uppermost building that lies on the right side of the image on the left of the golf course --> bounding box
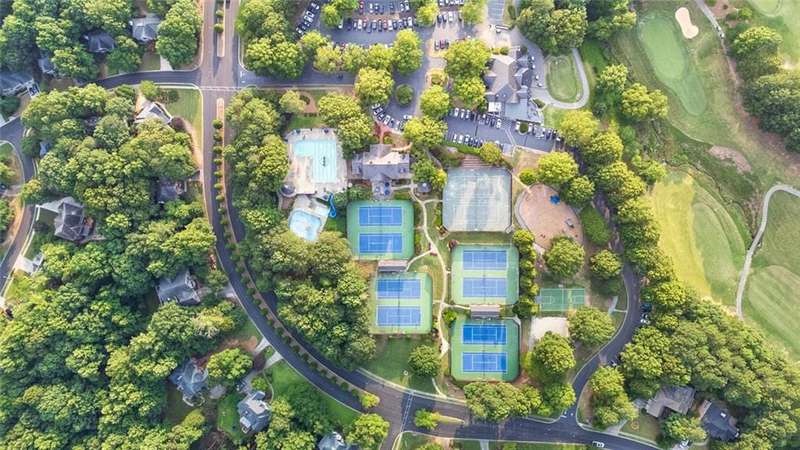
[481,52,535,121]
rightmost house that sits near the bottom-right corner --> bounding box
[692,399,738,440]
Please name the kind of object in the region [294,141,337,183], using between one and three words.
swimming pool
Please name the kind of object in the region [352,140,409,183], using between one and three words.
building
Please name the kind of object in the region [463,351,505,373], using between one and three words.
tennis court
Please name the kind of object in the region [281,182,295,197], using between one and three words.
gazebo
